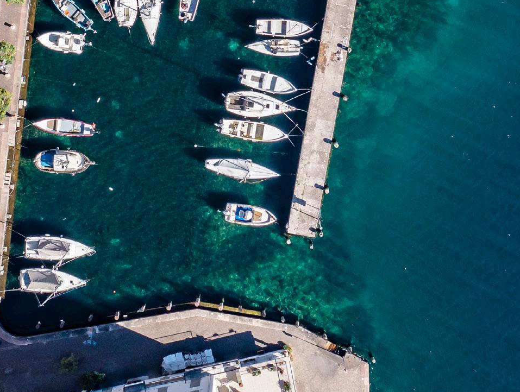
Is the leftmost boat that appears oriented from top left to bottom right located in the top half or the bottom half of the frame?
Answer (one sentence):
The leftmost boat that appears oriented from top left to bottom right sits in the top half of the picture.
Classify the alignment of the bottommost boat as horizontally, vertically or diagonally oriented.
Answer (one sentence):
The bottommost boat is laid out horizontally.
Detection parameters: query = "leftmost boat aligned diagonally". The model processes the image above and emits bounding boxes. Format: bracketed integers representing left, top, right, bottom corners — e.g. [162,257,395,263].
[53,0,95,31]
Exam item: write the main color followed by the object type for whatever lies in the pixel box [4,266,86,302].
white boat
